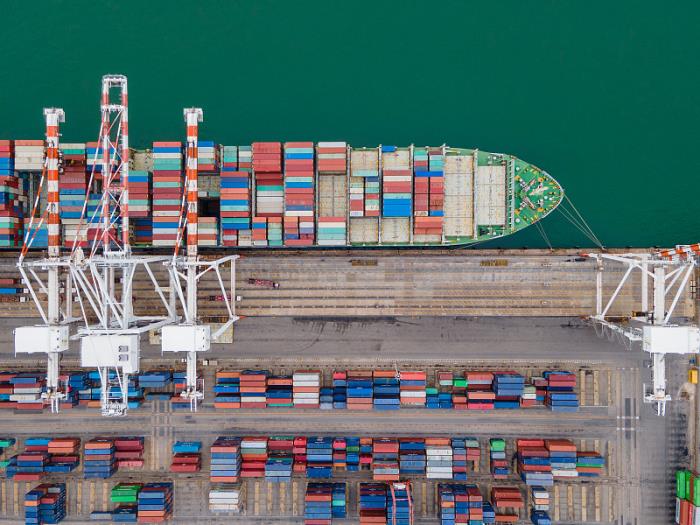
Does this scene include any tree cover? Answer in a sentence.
No, no tree cover is visible.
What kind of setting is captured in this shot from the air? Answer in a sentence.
The picture captures a port.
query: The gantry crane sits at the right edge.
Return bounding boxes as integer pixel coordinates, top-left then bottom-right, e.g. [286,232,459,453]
[576,244,700,406]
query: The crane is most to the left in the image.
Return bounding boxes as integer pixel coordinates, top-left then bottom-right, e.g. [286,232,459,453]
[11,107,125,406]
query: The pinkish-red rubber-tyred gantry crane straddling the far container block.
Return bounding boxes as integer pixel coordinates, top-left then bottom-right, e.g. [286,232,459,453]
[386,481,416,525]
